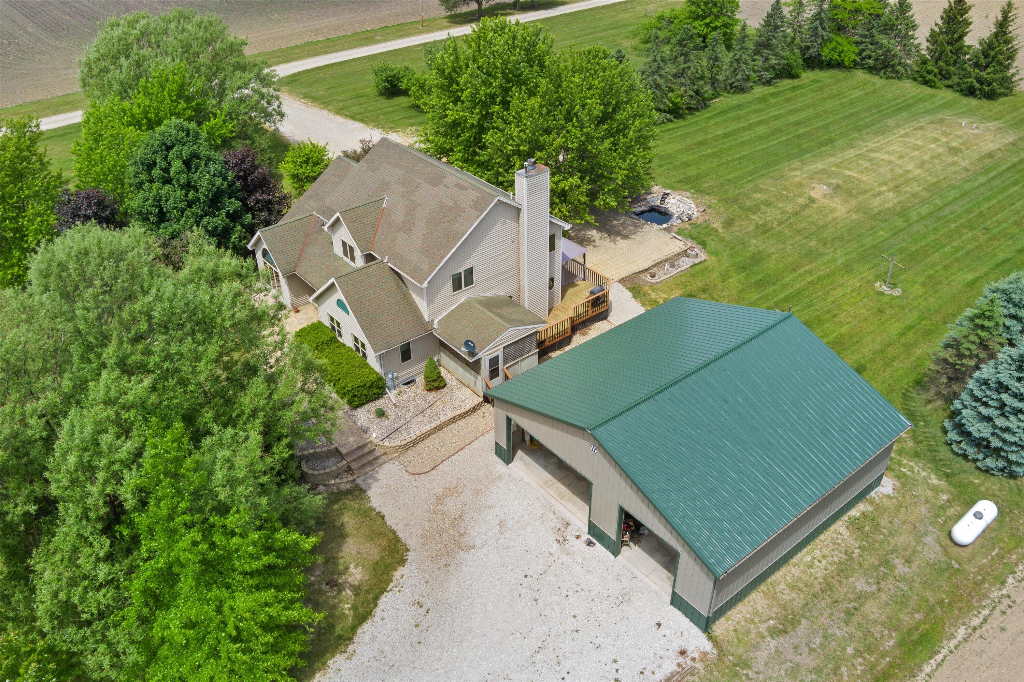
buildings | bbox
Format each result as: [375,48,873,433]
[247,136,573,404]
[483,297,914,642]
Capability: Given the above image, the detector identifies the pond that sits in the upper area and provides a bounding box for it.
[625,187,702,229]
